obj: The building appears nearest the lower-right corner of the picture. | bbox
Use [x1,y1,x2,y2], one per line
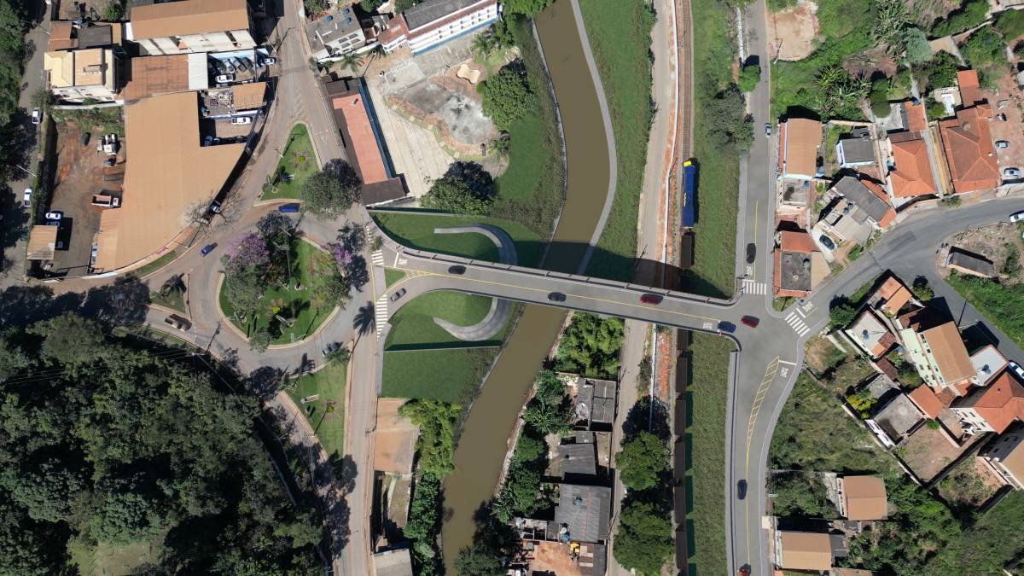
[980,432,1024,498]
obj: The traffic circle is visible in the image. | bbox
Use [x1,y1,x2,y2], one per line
[192,219,372,364]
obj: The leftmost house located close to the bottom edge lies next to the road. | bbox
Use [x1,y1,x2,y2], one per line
[374,543,414,576]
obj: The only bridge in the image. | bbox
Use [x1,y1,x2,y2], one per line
[363,218,745,350]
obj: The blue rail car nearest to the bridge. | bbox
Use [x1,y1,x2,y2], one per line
[680,160,696,226]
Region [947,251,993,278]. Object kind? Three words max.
shed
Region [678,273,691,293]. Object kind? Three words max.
rail car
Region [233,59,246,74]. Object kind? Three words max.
vehicle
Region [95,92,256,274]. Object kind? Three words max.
building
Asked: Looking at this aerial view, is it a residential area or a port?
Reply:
residential area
